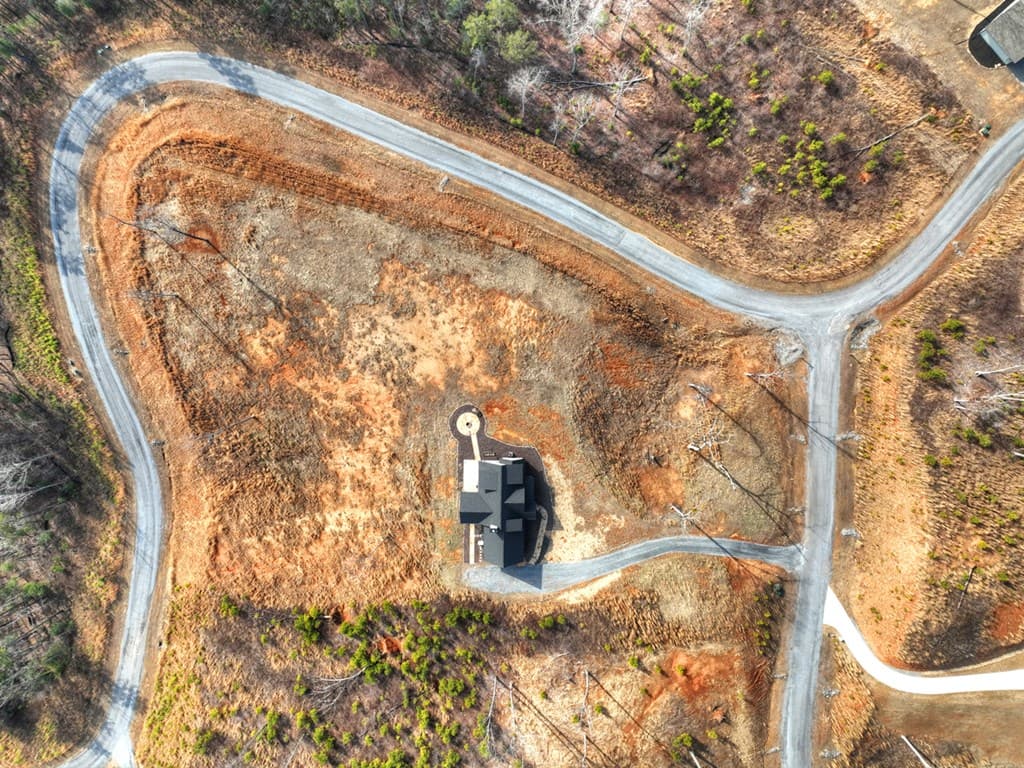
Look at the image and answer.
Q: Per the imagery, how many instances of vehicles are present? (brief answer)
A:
0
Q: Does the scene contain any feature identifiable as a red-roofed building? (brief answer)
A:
No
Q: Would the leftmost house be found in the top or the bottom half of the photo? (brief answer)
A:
bottom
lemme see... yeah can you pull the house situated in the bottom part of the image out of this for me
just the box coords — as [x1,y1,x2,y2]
[459,457,536,568]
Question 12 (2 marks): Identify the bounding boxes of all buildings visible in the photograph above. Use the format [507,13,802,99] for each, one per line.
[459,457,536,568]
[967,0,1024,74]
